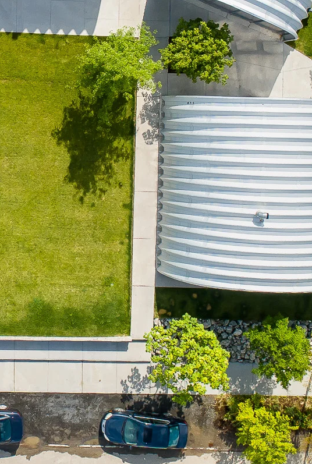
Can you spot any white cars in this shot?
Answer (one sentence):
No, this view has no white car in it.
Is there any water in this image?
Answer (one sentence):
No, there's no water in this view.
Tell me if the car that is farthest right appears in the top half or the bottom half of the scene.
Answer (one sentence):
The car that is farthest right sits in the bottom half of the picture.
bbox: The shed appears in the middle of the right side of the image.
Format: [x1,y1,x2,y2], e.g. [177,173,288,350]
[151,93,312,295]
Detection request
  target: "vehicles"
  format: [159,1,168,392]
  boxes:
[0,406,22,445]
[98,405,189,451]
